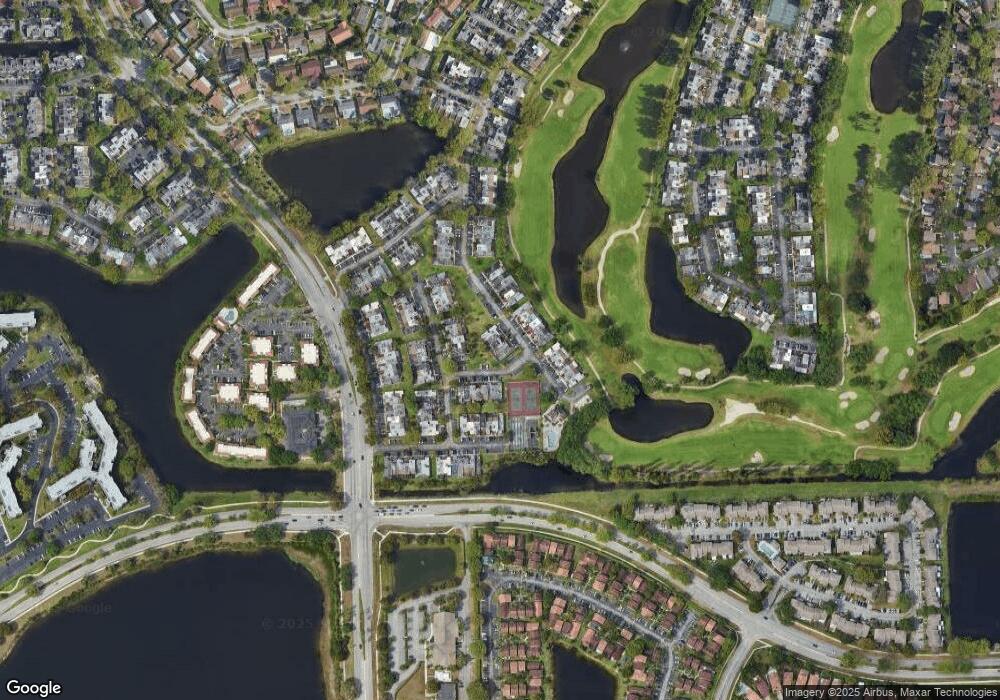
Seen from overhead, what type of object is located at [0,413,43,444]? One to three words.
building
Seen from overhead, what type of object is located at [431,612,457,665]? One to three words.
building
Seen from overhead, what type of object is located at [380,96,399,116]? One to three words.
house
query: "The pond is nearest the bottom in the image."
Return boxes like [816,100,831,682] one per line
[550,640,617,700]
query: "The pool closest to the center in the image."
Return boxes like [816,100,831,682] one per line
[543,420,562,452]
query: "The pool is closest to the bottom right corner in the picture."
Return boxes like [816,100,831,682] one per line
[757,540,780,558]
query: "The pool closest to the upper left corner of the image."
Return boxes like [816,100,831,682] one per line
[219,307,238,324]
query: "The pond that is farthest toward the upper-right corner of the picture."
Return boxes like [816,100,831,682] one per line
[869,0,923,114]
